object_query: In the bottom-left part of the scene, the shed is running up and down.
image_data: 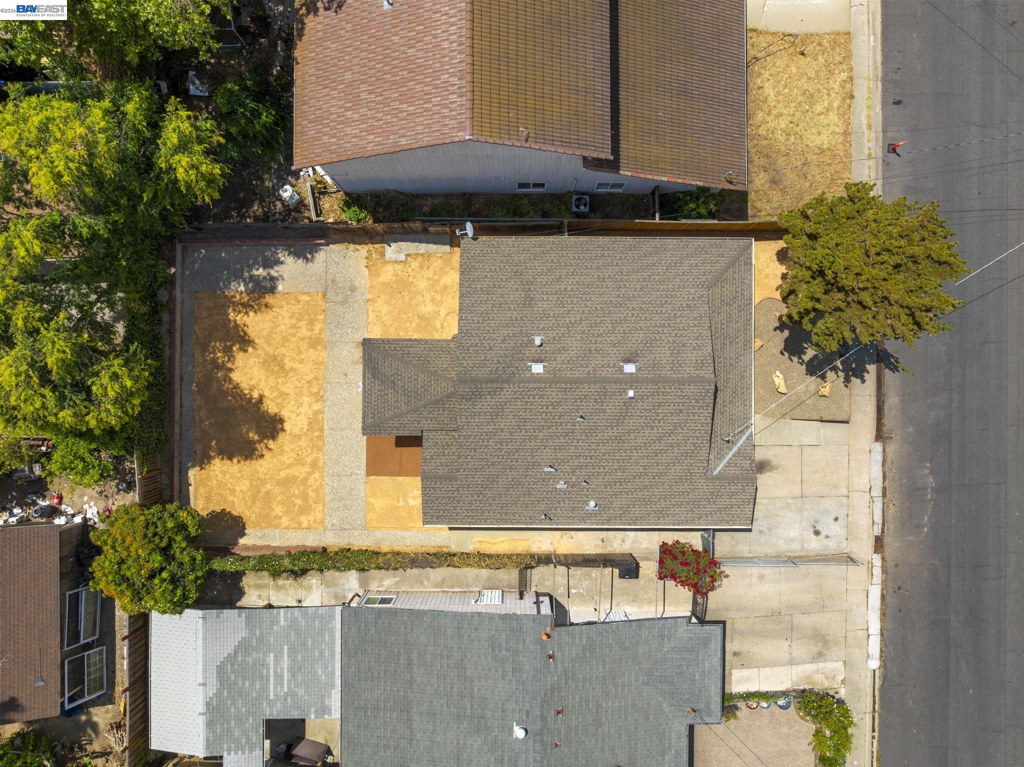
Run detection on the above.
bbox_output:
[0,518,113,733]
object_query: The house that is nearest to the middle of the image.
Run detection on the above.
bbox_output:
[361,236,757,529]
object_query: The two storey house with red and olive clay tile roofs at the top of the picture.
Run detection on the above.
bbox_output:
[291,0,749,194]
